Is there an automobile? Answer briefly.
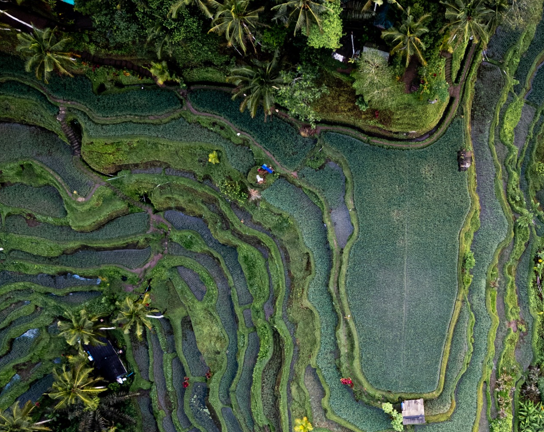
No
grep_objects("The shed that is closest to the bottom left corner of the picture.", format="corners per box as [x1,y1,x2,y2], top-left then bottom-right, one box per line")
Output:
[84,340,129,377]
